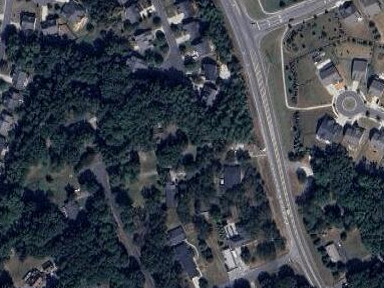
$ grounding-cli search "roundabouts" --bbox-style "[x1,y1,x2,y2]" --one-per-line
[333,89,363,119]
